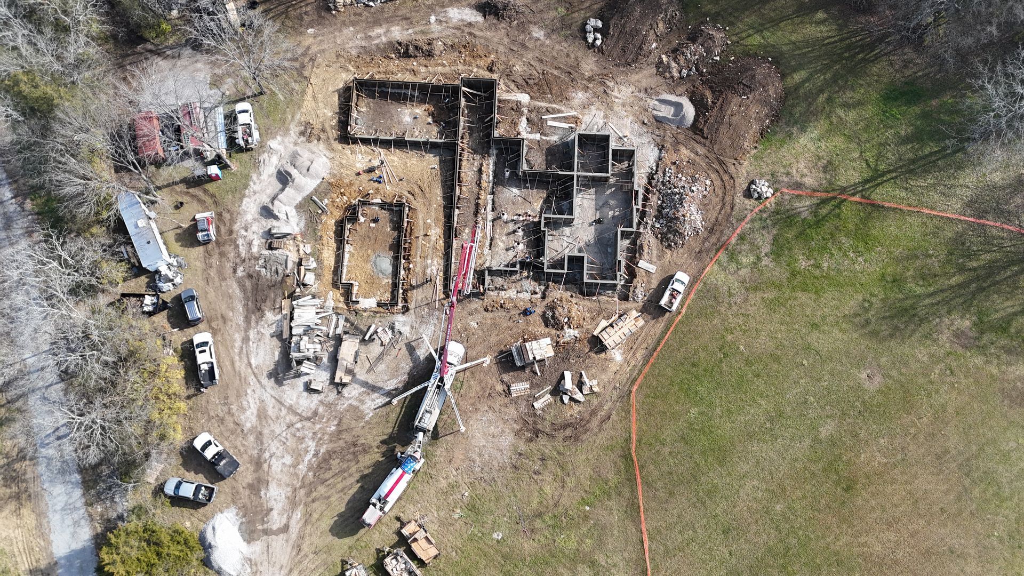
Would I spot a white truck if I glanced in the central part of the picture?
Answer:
Yes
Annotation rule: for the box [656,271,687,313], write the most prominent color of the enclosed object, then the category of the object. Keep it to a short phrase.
white truck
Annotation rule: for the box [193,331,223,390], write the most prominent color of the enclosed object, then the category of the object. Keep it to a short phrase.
white truck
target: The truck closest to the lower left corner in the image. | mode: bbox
[164,475,222,505]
